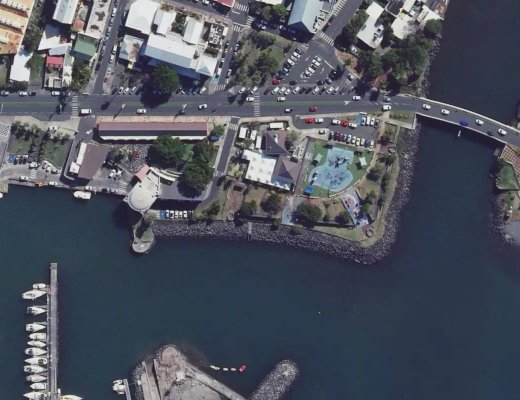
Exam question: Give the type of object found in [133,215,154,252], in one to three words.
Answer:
pier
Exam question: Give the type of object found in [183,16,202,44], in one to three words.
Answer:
house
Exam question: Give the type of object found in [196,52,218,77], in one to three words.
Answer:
house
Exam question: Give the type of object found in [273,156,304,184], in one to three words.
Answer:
building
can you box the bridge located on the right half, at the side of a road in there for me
[416,97,520,151]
